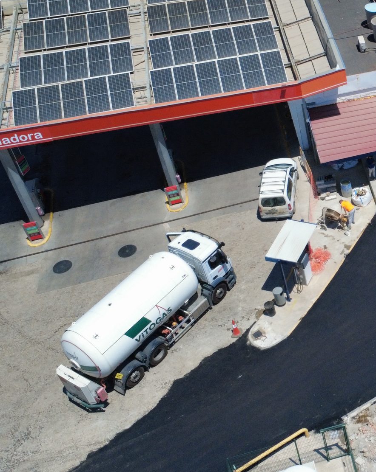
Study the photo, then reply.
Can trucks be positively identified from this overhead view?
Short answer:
Yes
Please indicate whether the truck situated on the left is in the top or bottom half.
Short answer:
bottom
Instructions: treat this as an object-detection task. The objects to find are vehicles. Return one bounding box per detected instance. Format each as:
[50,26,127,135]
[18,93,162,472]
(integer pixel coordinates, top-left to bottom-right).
[256,159,298,214]
[54,231,237,417]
